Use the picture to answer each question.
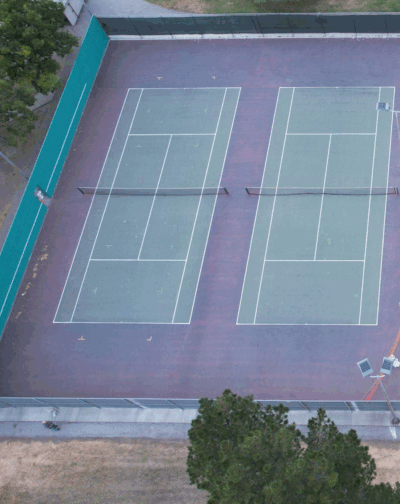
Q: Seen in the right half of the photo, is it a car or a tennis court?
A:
tennis court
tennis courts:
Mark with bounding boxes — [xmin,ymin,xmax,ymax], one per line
[237,88,394,324]
[52,88,242,338]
